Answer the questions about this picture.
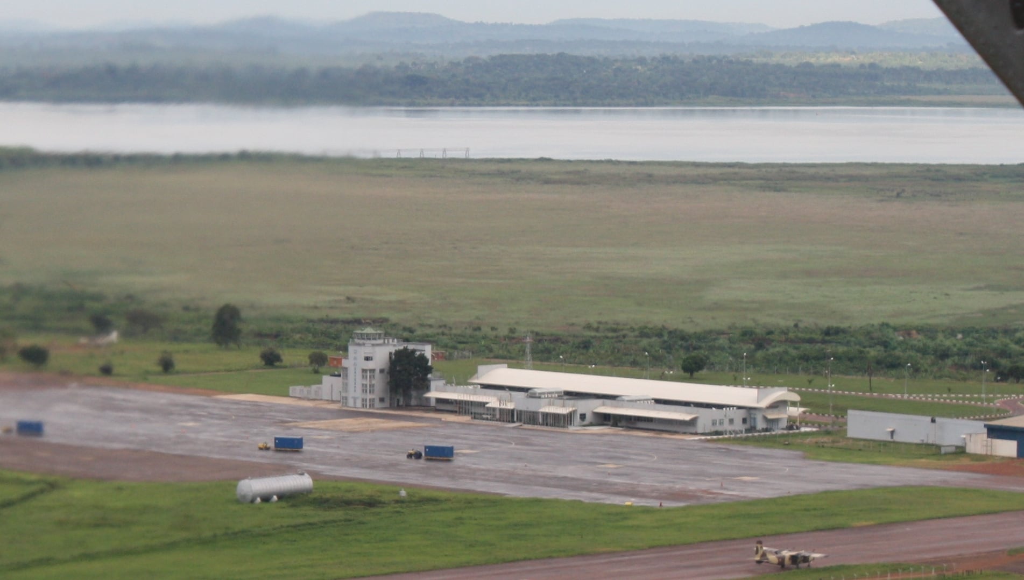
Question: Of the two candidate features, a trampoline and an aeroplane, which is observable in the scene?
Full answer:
Visible in the photo is an aeroplane.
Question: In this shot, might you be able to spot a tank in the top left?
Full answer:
No, no tank can be made out in the top left.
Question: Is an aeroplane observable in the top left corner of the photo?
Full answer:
No, the scene shows no aeroplane in the top left corner of the photo.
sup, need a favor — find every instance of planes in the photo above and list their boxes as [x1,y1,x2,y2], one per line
[749,541,824,567]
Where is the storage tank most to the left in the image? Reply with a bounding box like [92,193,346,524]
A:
[237,467,311,502]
